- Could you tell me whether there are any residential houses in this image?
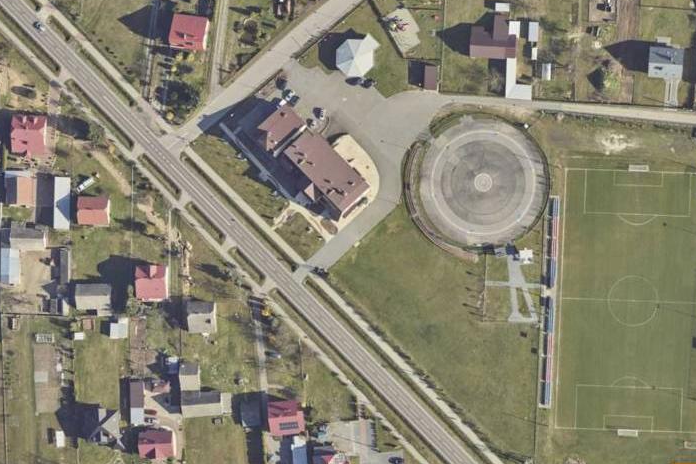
Yes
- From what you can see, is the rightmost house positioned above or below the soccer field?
above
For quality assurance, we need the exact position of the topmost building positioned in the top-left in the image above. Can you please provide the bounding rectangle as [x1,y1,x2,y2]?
[168,12,211,53]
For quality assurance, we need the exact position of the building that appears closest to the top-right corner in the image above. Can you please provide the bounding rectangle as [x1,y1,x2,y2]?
[647,46,684,80]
